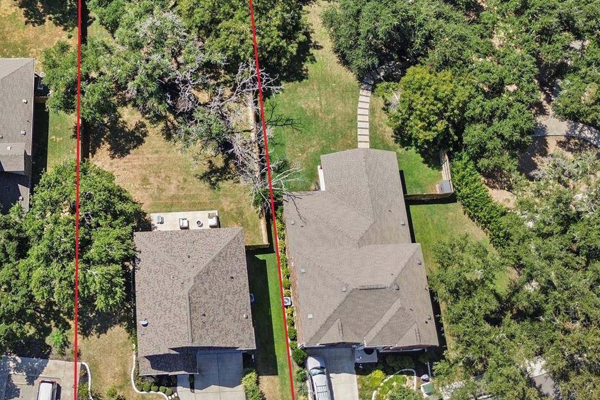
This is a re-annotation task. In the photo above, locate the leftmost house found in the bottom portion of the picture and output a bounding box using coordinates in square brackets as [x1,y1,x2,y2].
[134,229,256,376]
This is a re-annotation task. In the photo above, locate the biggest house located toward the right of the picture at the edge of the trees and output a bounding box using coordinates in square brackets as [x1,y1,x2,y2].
[282,148,439,354]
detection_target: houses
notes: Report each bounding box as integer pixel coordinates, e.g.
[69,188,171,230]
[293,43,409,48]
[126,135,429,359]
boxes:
[282,148,439,354]
[0,56,35,238]
[134,229,256,376]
